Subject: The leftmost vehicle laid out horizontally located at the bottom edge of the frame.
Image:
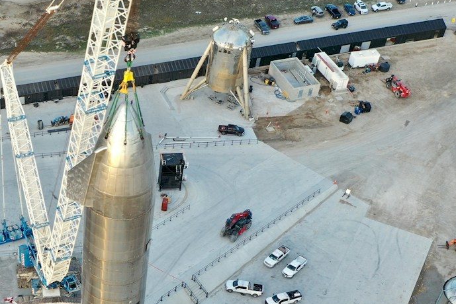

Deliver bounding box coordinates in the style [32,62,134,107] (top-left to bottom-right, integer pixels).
[225,280,263,297]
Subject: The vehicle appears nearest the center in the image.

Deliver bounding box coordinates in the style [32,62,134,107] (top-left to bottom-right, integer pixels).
[215,123,247,138]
